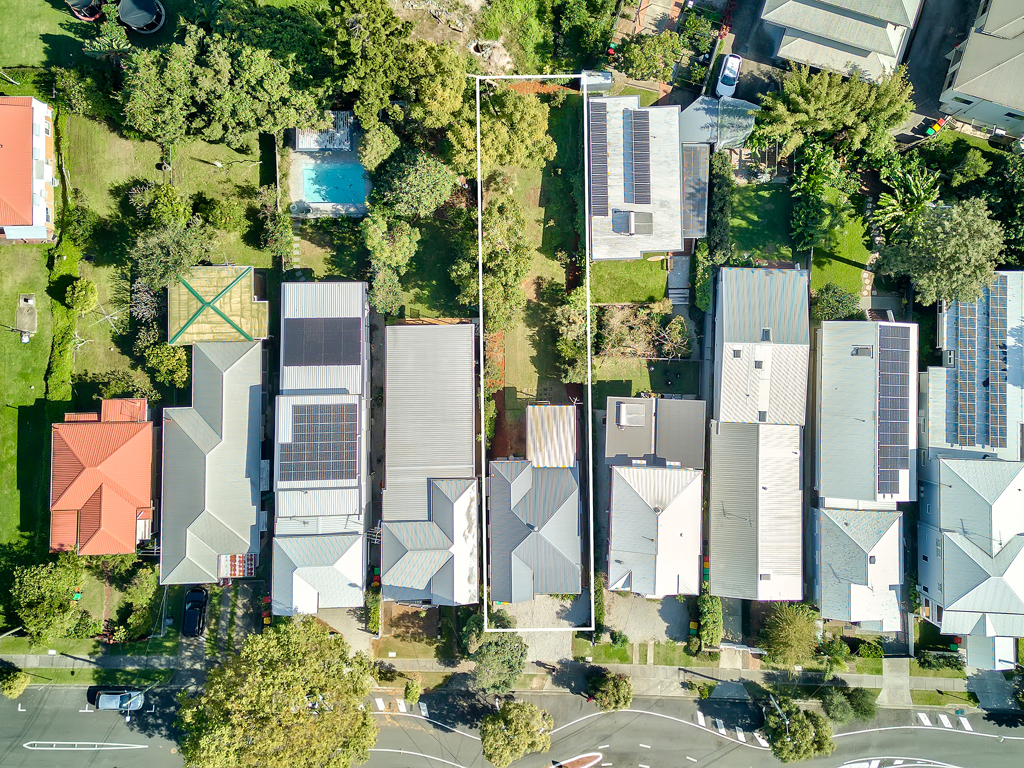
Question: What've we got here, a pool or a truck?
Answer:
pool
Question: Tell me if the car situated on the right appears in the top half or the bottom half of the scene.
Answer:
top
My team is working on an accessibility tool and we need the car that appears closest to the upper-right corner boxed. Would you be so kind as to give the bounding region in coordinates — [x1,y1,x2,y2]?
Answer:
[716,51,741,99]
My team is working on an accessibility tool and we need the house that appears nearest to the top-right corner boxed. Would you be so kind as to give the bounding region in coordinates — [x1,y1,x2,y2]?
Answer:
[923,0,1024,135]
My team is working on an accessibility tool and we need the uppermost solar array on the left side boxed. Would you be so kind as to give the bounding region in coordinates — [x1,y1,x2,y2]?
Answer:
[284,317,360,365]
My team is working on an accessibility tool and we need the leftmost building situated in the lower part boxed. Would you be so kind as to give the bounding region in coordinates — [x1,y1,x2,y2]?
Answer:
[49,397,162,556]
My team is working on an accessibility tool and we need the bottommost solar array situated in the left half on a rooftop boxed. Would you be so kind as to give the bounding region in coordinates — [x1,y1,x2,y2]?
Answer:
[279,404,357,481]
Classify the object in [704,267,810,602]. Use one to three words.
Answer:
house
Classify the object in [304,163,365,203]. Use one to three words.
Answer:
swimming pool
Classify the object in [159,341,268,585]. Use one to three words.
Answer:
house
